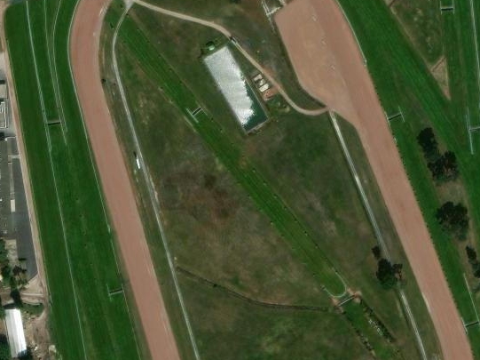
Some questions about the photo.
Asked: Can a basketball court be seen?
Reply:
No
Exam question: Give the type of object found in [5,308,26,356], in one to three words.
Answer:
barn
